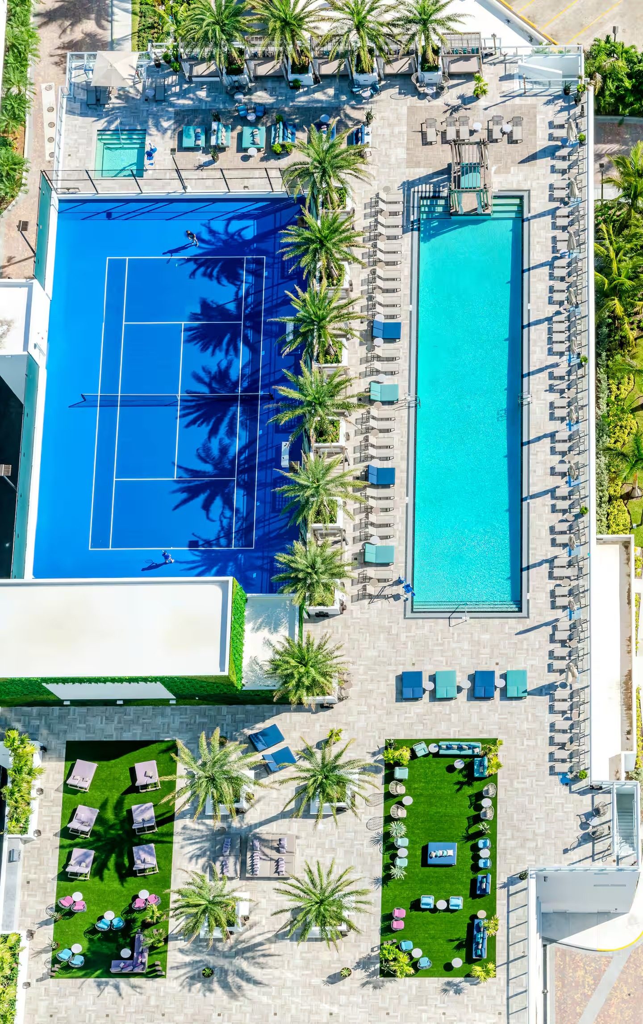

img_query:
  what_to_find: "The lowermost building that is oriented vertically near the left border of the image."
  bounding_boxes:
[0,279,50,397]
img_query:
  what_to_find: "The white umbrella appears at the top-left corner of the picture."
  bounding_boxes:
[91,51,139,96]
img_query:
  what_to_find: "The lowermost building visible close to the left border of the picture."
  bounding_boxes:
[0,577,250,711]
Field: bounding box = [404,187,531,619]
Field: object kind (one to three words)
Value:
swimming pool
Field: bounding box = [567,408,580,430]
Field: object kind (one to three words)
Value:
umbrella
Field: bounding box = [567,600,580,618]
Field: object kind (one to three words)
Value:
umbrella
